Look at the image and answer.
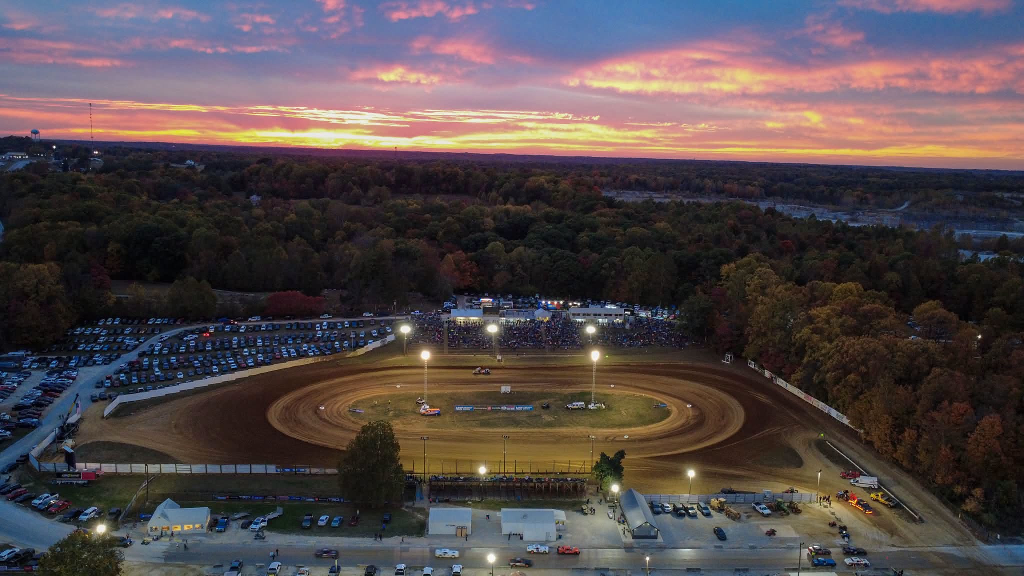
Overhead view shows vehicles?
Yes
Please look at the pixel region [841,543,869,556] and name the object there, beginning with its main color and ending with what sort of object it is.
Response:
black vehicle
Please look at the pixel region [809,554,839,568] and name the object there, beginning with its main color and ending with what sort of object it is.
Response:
blue car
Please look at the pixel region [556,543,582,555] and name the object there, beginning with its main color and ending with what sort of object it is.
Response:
red vehicle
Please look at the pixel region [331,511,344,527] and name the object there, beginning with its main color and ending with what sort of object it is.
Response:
blue vehicle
